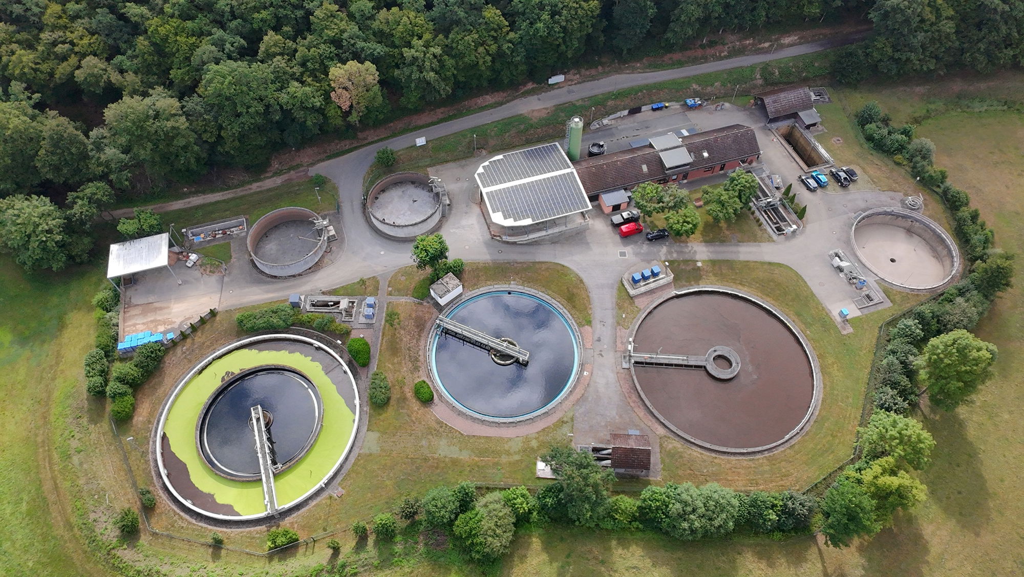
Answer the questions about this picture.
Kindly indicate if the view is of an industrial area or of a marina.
industrial area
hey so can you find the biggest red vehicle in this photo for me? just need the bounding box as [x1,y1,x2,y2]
[618,220,646,238]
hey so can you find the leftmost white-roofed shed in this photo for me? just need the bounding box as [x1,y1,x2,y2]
[106,234,181,297]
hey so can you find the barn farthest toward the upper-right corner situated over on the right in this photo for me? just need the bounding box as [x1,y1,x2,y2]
[747,83,824,130]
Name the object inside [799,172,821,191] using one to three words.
car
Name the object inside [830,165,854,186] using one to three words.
truck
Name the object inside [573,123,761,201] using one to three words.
building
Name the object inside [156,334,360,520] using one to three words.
storage tank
